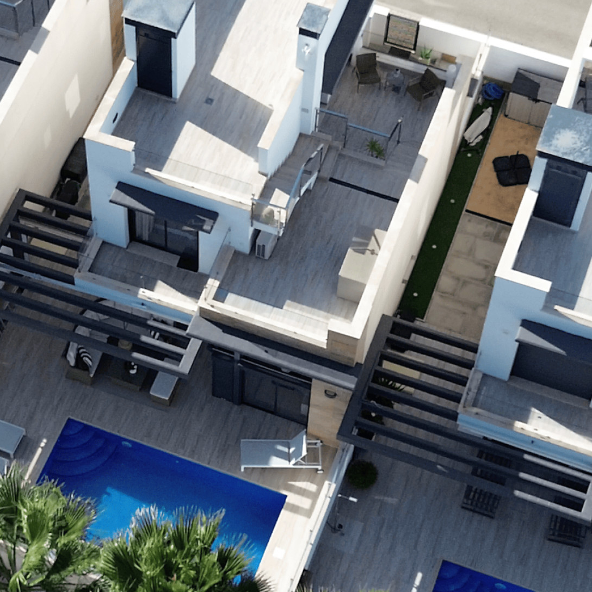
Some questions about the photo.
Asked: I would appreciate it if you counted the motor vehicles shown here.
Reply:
none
